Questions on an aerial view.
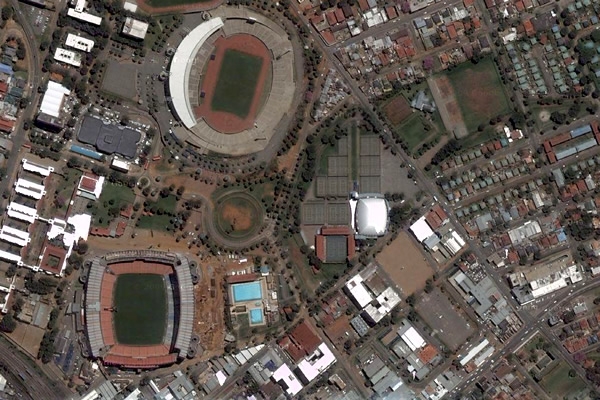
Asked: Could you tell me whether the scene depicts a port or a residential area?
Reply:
residential area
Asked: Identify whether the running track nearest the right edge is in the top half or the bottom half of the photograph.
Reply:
top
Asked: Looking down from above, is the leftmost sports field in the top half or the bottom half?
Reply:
bottom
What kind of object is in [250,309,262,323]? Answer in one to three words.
swimming pool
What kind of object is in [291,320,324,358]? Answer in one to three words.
building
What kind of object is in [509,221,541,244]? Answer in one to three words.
shed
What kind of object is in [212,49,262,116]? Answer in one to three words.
sports field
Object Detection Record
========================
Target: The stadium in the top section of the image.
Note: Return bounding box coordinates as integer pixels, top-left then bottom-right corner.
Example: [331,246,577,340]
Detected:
[160,6,294,157]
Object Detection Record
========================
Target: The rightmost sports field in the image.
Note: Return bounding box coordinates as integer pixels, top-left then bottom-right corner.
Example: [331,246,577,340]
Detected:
[449,57,512,133]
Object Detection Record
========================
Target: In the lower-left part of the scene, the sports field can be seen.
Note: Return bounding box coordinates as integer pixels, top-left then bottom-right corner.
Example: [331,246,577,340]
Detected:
[113,273,166,345]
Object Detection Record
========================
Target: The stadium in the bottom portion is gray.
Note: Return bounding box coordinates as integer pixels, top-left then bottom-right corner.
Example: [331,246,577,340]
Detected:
[78,249,200,368]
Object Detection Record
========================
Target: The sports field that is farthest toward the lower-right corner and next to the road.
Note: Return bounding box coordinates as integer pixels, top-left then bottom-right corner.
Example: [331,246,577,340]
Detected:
[378,231,435,296]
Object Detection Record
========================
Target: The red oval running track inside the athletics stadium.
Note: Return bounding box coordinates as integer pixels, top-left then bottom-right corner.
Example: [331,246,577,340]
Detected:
[200,34,272,133]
